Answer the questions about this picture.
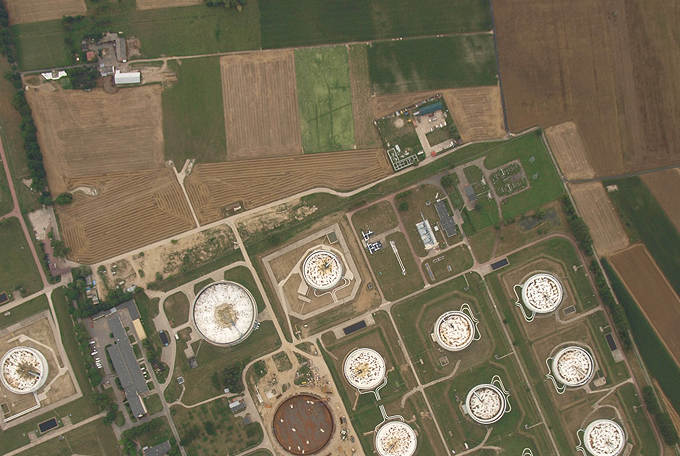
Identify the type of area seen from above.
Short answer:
industrial area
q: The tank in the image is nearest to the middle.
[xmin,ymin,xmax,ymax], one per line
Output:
[302,248,343,288]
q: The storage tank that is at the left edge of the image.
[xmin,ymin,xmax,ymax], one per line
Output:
[0,347,49,393]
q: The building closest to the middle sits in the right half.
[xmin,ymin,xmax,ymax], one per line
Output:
[416,213,438,249]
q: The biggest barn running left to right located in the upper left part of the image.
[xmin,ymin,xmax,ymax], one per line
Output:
[114,72,141,85]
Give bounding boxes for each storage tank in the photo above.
[551,346,594,388]
[375,419,417,456]
[191,280,257,346]
[302,248,343,288]
[434,310,475,352]
[270,391,337,456]
[345,347,387,389]
[465,383,507,425]
[0,347,49,393]
[582,418,625,456]
[522,274,564,315]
